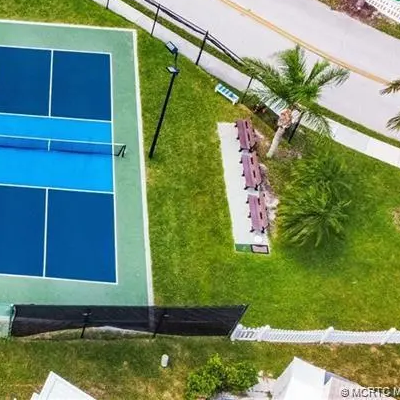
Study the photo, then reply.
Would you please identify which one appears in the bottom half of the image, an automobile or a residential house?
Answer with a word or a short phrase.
residential house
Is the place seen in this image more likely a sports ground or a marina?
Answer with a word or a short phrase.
sports ground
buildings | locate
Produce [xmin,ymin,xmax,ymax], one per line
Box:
[31,369,101,400]
[273,357,344,400]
